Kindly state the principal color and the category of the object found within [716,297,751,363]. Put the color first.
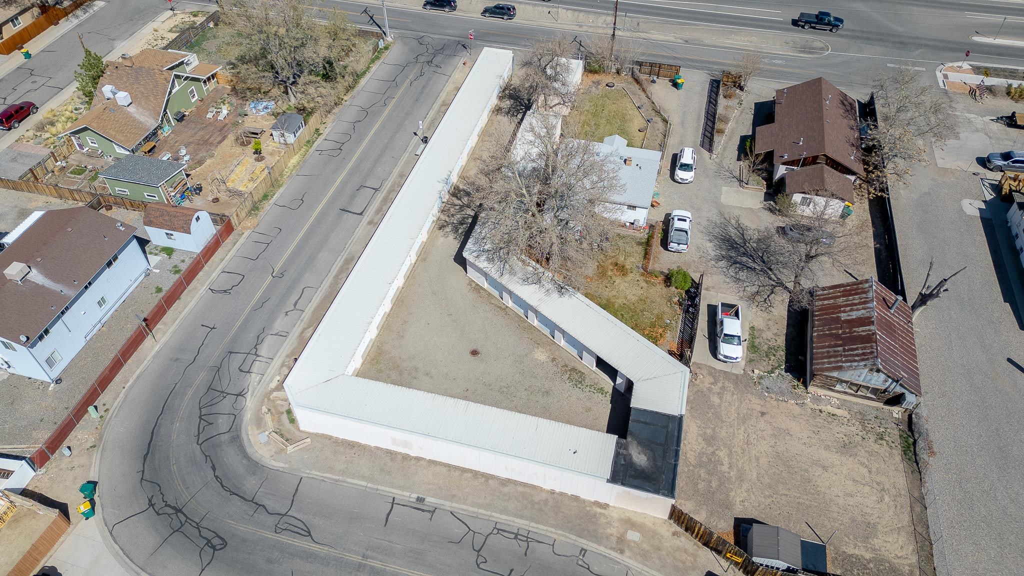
white truck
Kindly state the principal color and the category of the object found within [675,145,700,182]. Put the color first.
white car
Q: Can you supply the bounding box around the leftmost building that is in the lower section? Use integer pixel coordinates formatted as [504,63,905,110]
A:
[0,455,35,499]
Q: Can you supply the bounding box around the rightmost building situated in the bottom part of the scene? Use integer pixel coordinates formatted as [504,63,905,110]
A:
[806,277,924,416]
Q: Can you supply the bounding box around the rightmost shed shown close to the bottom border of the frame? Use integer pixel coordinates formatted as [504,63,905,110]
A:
[751,509,812,572]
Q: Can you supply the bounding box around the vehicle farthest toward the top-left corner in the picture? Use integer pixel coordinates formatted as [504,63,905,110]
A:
[0,99,40,129]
